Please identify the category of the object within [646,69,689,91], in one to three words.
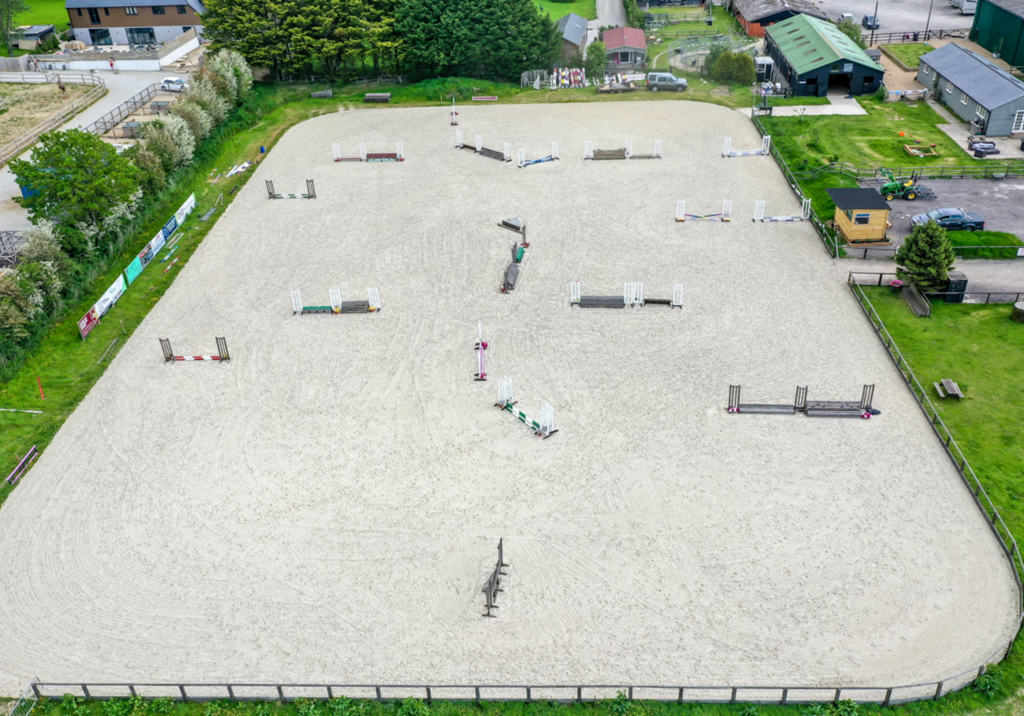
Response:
car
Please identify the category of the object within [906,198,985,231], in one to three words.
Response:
truck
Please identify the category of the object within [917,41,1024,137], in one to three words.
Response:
house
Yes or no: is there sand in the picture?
Yes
